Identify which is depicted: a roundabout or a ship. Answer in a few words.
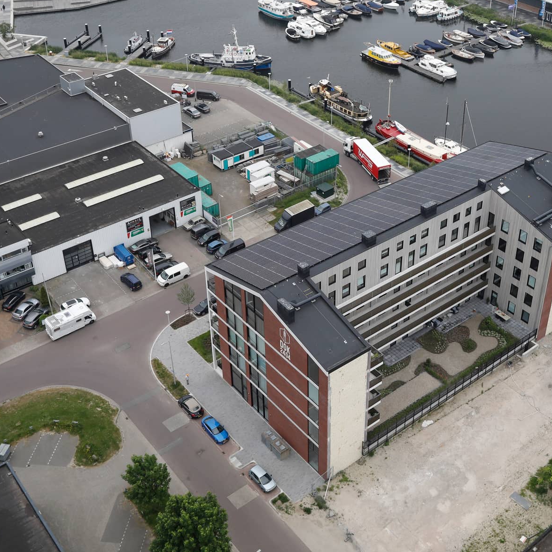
ship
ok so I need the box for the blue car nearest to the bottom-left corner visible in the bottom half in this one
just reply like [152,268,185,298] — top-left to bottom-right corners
[200,413,230,445]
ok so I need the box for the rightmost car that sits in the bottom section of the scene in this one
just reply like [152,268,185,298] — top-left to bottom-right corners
[247,463,277,496]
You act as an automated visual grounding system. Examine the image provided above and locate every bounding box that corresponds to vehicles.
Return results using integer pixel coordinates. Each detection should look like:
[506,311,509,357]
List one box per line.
[175,393,208,420]
[189,222,217,238]
[47,308,97,341]
[19,308,52,330]
[196,87,220,101]
[215,234,247,257]
[346,140,392,186]
[190,296,217,316]
[182,107,202,117]
[135,244,167,260]
[117,274,144,290]
[157,258,191,284]
[195,229,223,247]
[247,463,277,496]
[0,290,29,312]
[8,298,42,321]
[150,256,180,277]
[277,202,314,230]
[314,202,335,216]
[193,102,213,113]
[143,251,174,268]
[200,413,230,445]
[58,296,93,312]
[171,82,195,96]
[203,240,225,255]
